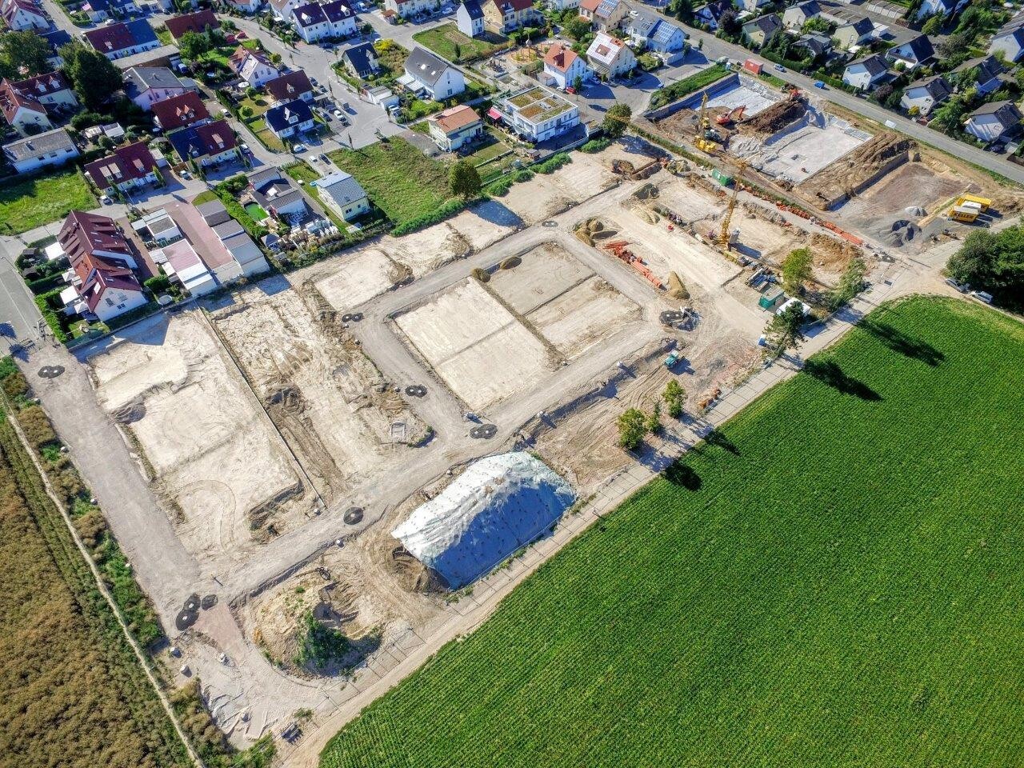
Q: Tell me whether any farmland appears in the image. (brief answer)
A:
Yes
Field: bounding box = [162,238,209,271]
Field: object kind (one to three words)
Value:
building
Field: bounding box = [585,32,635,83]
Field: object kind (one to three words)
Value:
house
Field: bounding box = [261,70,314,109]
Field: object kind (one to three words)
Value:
house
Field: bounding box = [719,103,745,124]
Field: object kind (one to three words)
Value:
work vehicle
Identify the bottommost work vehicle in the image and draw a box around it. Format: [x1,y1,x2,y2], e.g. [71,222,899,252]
[657,348,685,370]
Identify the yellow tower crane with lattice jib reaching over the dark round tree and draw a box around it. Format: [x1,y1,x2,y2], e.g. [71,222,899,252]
[605,112,768,258]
